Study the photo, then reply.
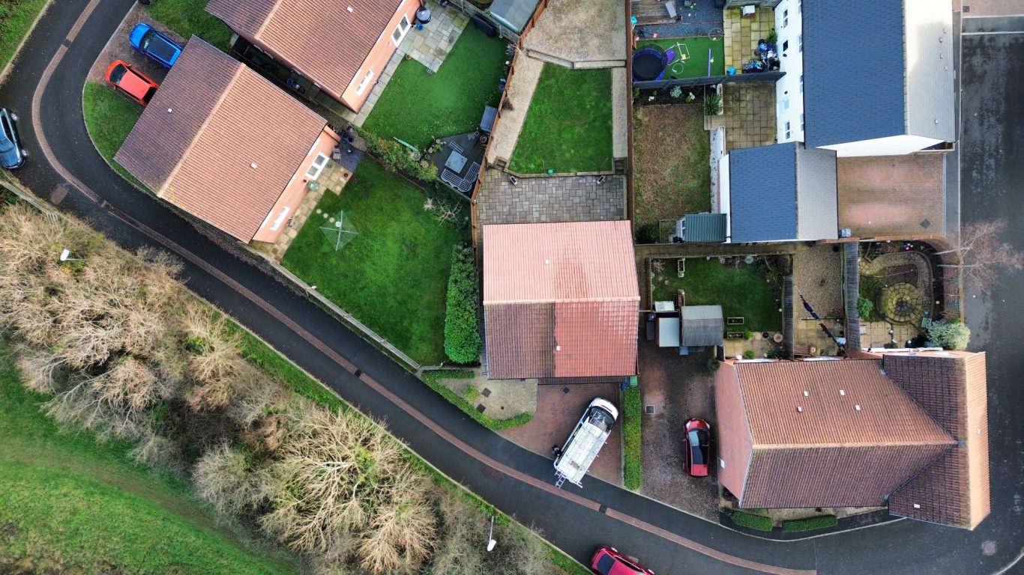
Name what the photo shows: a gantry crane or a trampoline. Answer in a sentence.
Looking from above, you can make out a trampoline.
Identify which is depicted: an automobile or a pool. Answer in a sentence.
Of the two, only an automobile appears.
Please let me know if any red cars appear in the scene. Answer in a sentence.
Yes, this view includes a red car.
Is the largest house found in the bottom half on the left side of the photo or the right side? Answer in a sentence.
The largest house found in the bottom half appears in the right half of the scene.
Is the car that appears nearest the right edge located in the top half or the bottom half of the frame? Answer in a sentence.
You can find the car that appears nearest the right edge in the bottom half.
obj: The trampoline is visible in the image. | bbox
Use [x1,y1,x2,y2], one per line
[631,39,670,81]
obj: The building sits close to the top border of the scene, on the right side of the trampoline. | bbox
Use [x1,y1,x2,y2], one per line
[776,0,956,158]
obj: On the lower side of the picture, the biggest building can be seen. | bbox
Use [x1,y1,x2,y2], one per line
[715,347,991,532]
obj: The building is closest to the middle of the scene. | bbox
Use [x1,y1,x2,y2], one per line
[483,219,643,388]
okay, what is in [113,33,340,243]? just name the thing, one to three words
house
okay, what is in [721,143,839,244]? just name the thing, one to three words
building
